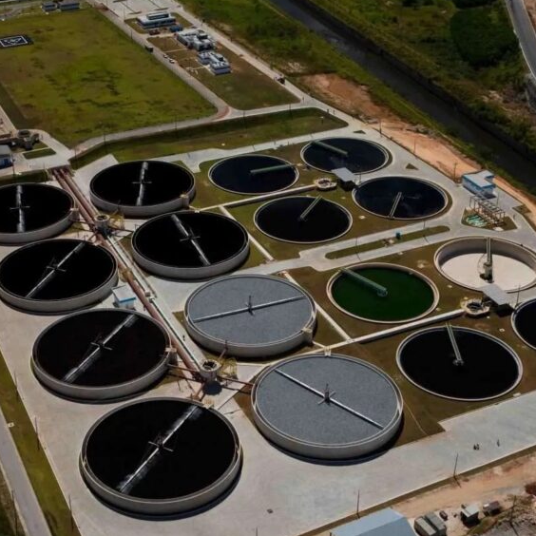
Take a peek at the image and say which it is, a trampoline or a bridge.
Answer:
bridge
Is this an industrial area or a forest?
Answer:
industrial area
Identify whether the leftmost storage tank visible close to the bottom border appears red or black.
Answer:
black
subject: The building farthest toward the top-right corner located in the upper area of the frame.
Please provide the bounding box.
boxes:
[463,170,495,203]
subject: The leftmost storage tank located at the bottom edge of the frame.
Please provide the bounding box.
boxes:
[81,396,243,517]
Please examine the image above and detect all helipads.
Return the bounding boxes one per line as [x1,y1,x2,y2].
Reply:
[0,34,33,49]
